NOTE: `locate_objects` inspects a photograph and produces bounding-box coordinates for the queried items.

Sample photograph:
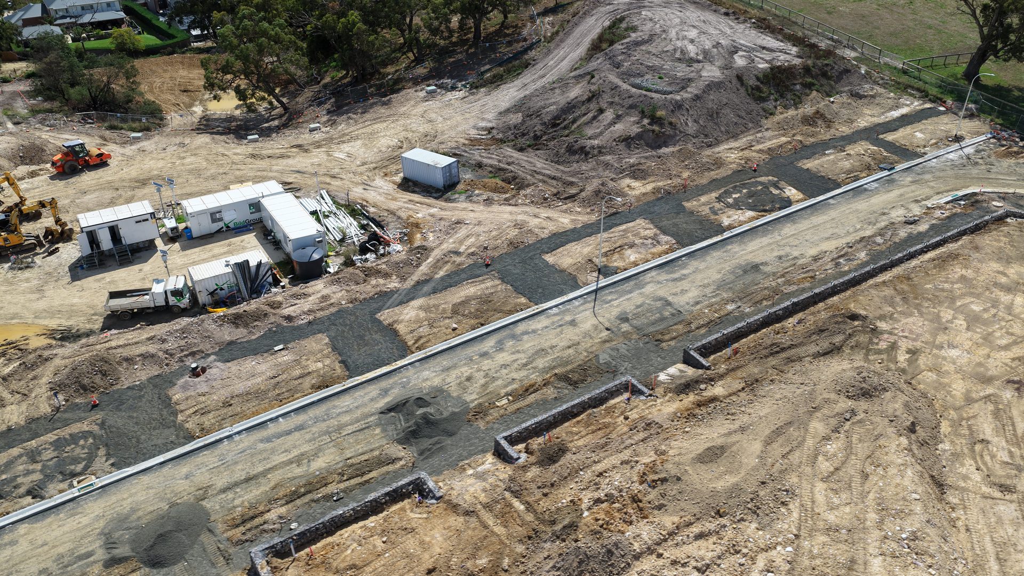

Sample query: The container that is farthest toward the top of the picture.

[401,148,458,190]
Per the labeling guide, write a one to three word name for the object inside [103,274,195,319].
truck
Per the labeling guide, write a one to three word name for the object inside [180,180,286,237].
building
